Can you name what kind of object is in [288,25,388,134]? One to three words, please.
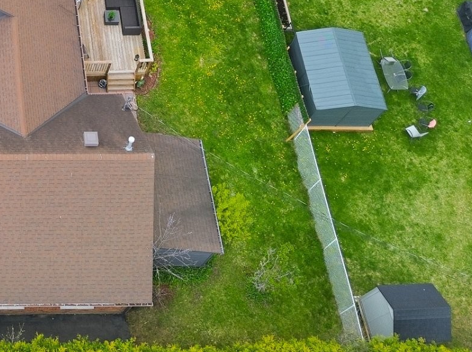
shed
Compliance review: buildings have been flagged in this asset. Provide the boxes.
[288,25,388,134]
[0,0,226,314]
[360,287,461,343]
